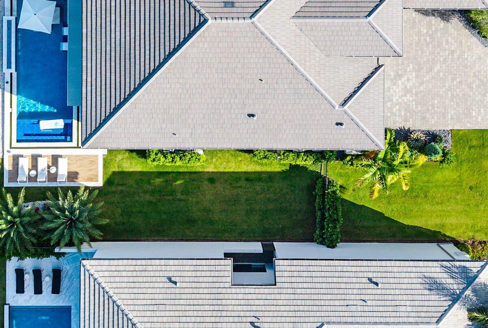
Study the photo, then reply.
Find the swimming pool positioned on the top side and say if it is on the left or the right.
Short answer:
left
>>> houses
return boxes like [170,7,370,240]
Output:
[79,0,488,150]
[79,240,488,328]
